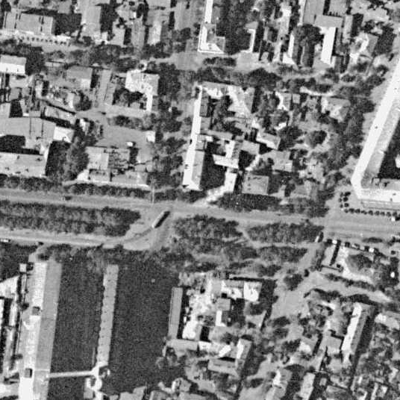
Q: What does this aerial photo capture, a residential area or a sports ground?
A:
residential area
